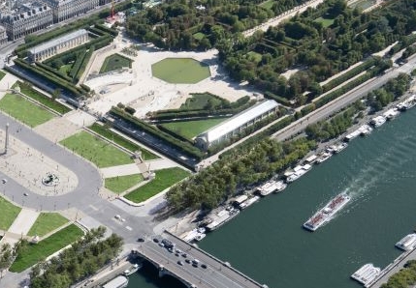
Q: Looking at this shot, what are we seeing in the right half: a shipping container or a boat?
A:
boat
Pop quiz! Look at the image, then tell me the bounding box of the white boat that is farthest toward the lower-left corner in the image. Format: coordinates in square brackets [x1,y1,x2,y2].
[102,274,127,288]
